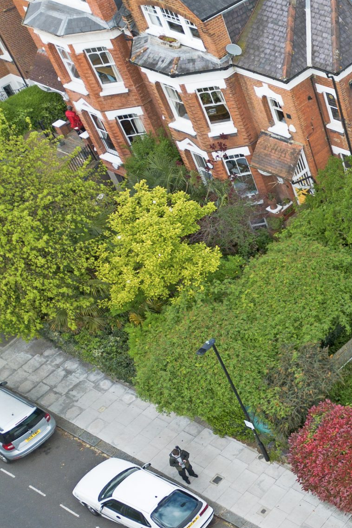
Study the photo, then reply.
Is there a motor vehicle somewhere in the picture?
Yes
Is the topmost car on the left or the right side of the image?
left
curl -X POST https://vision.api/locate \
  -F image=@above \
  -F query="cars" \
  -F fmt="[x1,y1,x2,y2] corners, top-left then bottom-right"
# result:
[76,458,221,528]
[0,386,60,463]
